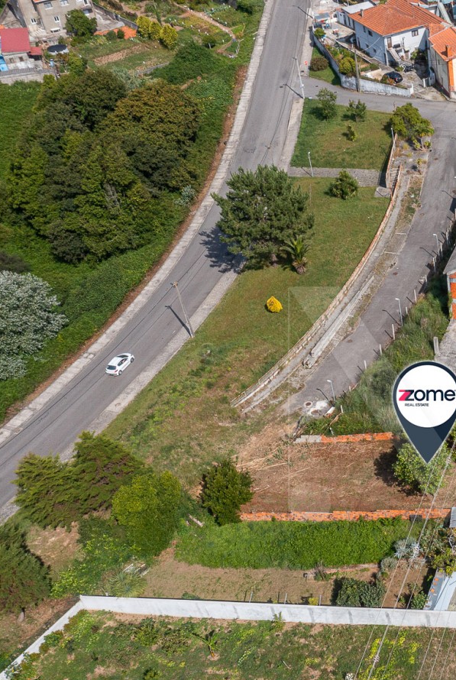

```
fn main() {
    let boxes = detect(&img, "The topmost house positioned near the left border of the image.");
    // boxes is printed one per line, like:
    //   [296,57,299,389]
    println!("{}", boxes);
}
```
[14,0,97,33]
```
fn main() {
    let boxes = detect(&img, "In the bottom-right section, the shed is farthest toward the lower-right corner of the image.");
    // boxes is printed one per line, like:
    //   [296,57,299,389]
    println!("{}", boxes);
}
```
[424,570,445,609]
